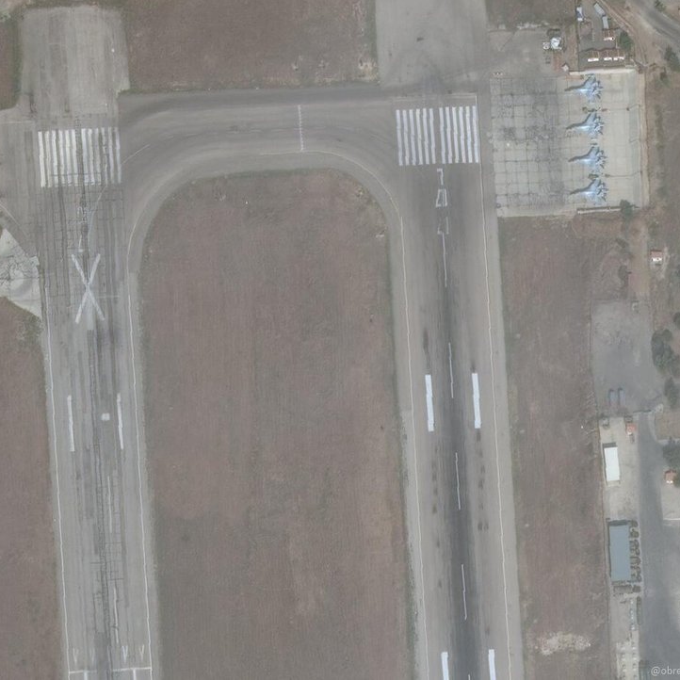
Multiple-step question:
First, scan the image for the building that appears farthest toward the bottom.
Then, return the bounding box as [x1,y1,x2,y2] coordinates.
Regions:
[609,524,631,584]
